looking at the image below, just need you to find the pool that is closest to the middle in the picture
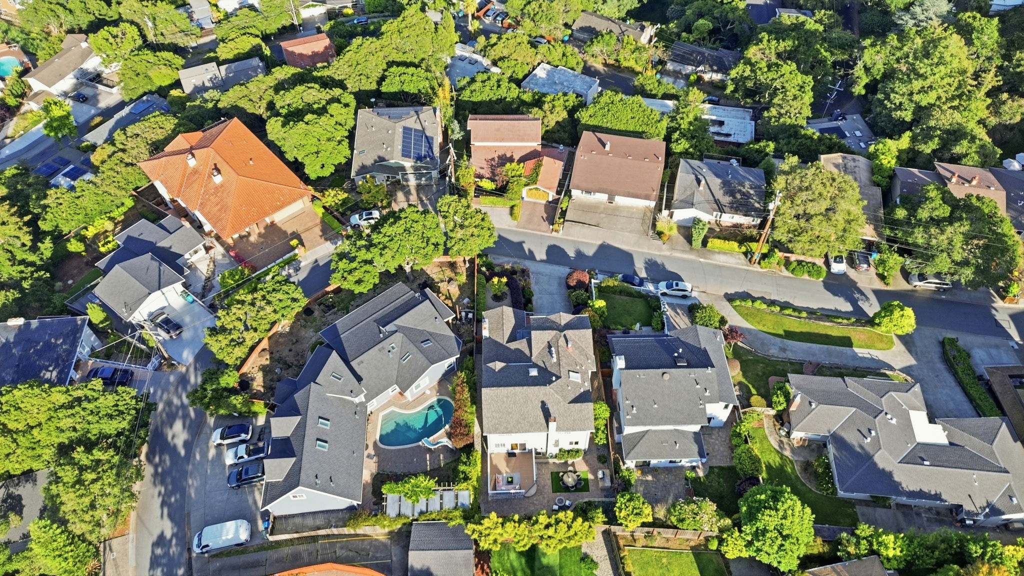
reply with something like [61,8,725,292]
[376,396,453,448]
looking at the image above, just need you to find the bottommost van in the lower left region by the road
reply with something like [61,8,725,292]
[190,511,255,554]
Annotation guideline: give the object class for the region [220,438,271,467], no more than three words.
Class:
truck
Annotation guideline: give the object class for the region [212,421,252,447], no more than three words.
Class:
car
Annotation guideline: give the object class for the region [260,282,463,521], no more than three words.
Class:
house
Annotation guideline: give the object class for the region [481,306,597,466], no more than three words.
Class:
house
